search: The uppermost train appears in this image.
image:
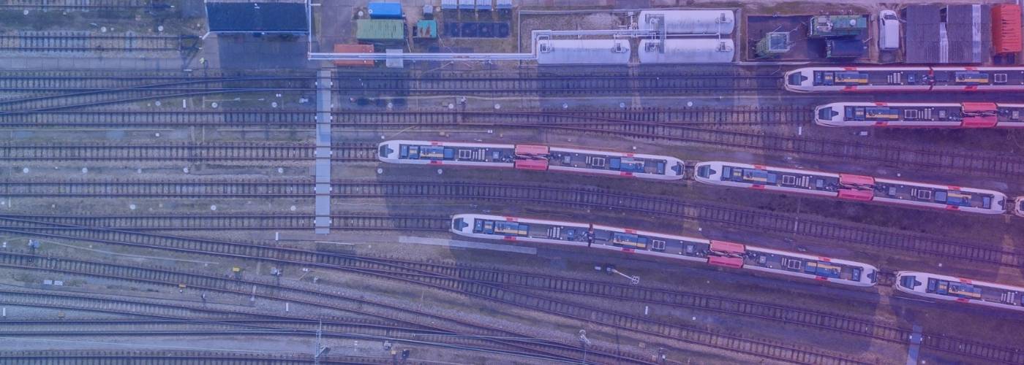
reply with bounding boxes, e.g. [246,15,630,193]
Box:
[778,67,1024,94]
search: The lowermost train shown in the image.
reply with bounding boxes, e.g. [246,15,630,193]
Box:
[892,271,1024,313]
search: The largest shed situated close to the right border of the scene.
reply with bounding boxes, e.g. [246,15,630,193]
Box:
[897,4,991,65]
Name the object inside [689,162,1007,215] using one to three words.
train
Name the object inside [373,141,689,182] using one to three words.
train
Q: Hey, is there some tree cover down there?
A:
No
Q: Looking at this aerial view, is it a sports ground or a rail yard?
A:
rail yard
